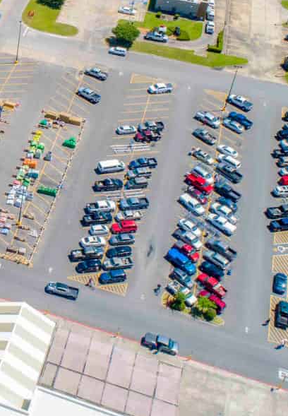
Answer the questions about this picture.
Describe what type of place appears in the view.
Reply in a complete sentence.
It's a parking lot.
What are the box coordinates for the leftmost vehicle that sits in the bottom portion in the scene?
[45,282,79,302]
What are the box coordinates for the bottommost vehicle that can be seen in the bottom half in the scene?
[143,334,182,355]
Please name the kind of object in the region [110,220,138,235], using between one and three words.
car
